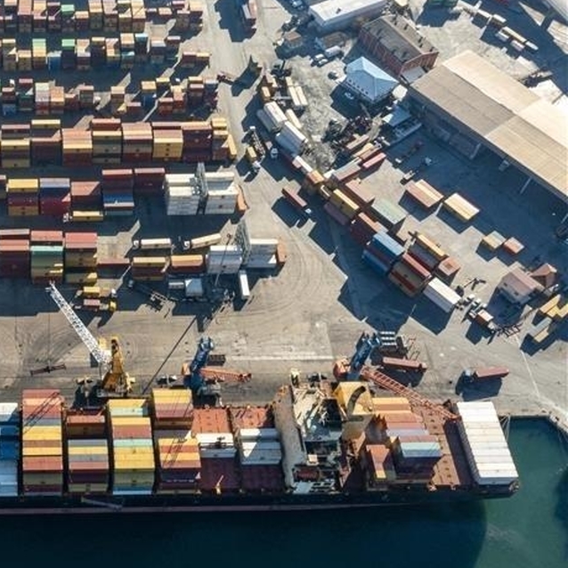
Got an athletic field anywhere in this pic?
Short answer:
No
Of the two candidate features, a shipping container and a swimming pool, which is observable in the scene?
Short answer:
shipping container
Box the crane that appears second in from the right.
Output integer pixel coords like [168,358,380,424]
[180,335,257,417]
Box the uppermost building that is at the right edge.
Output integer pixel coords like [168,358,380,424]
[411,58,568,216]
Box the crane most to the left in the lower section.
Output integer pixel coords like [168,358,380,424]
[44,279,137,410]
